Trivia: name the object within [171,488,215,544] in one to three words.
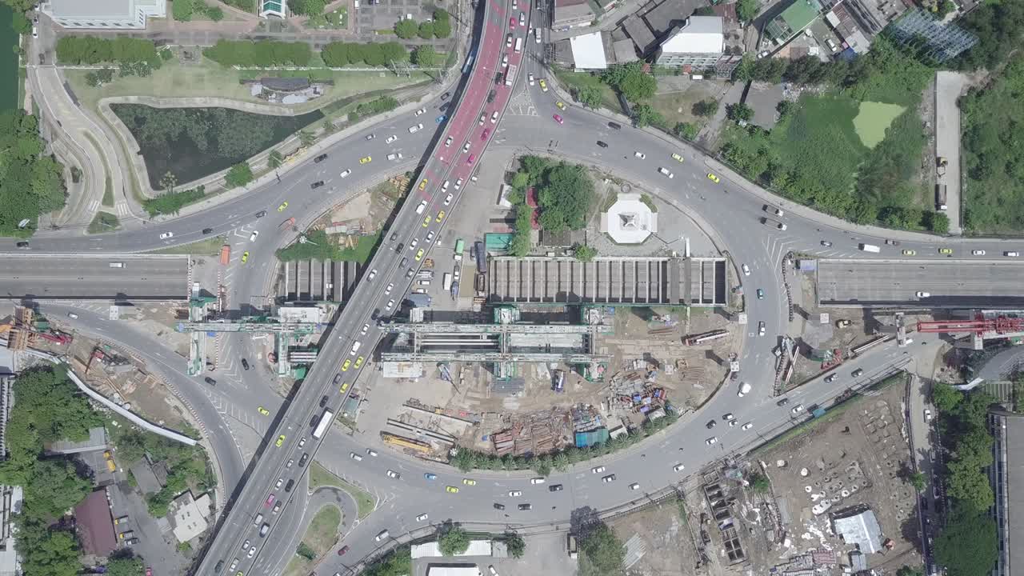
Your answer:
house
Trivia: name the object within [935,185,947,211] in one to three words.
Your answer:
vehicle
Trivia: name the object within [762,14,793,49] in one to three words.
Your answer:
building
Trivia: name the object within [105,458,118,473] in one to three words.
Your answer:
vehicle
